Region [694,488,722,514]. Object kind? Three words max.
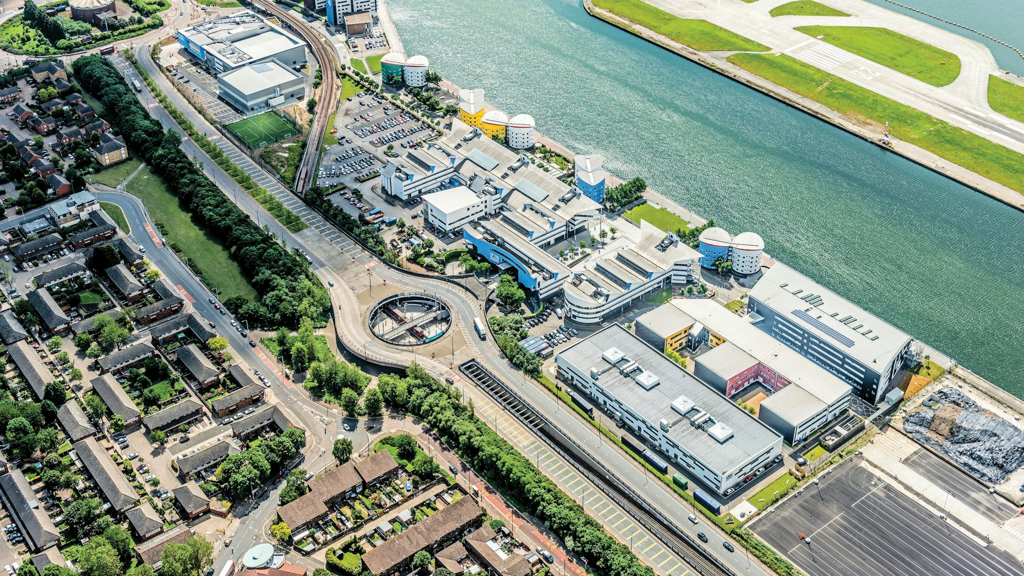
shipping container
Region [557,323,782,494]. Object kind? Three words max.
warehouse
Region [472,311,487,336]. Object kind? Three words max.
vehicle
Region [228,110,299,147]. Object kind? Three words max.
soccer field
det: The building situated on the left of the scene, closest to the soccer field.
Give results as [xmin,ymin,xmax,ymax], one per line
[216,56,305,113]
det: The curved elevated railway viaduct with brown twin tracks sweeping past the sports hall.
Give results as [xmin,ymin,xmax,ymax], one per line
[248,0,336,190]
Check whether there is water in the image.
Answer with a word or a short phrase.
Yes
